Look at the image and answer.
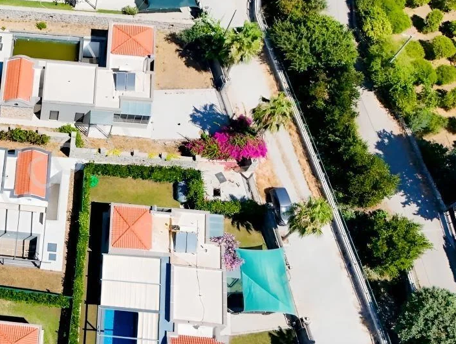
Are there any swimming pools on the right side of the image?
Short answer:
No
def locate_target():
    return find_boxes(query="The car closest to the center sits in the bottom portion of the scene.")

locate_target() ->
[262,187,293,231]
